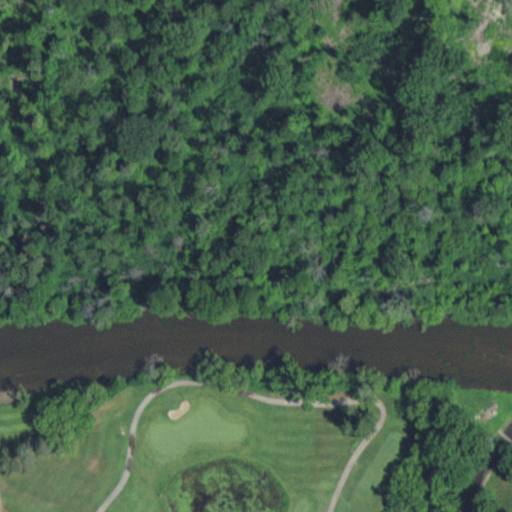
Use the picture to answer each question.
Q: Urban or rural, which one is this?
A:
rural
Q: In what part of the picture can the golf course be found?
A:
bottom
